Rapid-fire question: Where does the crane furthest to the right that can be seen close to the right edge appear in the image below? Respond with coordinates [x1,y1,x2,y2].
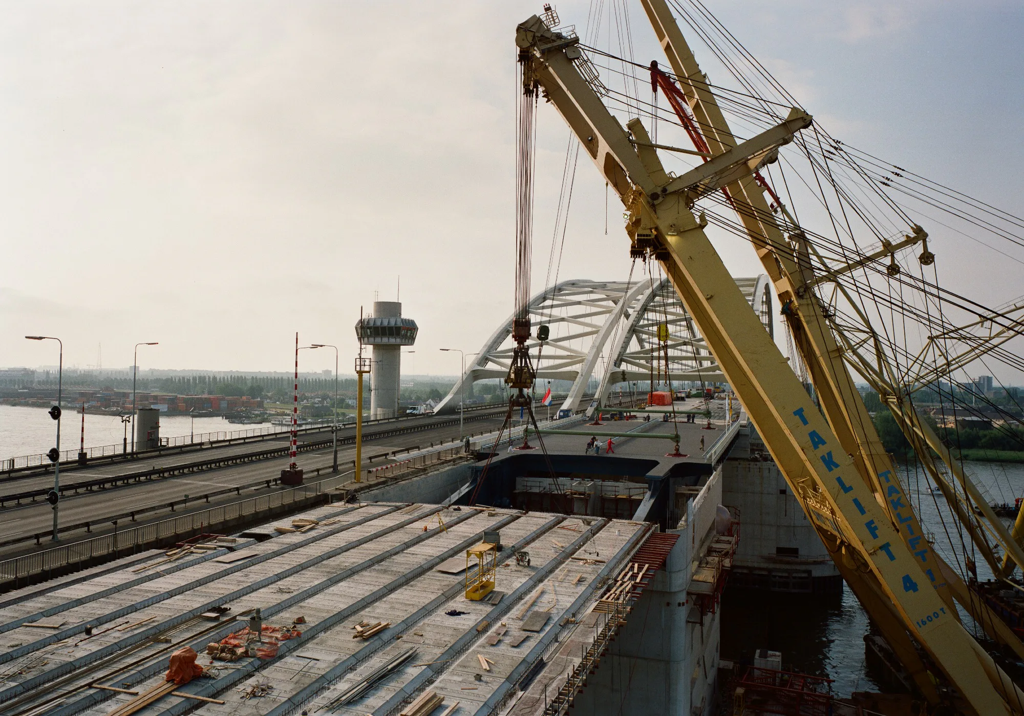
[780,206,1024,579]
